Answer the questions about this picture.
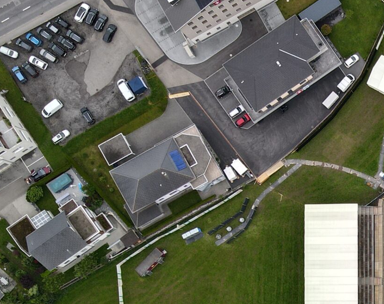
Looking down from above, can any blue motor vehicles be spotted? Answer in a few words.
Yes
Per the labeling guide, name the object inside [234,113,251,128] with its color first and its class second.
red car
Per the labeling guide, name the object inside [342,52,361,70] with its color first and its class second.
white car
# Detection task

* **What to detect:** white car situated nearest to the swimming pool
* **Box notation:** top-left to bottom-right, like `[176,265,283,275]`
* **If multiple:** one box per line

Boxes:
[51,128,71,144]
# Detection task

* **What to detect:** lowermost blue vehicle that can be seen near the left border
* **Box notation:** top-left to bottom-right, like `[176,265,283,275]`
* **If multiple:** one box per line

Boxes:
[13,65,28,84]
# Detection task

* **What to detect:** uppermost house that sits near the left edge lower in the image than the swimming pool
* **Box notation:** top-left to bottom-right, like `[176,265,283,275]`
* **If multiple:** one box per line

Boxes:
[7,199,115,271]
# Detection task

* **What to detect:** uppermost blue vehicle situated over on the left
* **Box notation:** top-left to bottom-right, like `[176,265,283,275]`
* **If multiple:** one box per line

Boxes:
[26,31,43,48]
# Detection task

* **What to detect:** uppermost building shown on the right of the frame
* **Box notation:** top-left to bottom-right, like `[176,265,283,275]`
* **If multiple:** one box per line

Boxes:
[299,0,342,22]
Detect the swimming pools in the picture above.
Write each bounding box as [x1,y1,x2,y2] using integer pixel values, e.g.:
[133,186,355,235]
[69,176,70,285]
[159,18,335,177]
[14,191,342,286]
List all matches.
[49,172,72,190]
